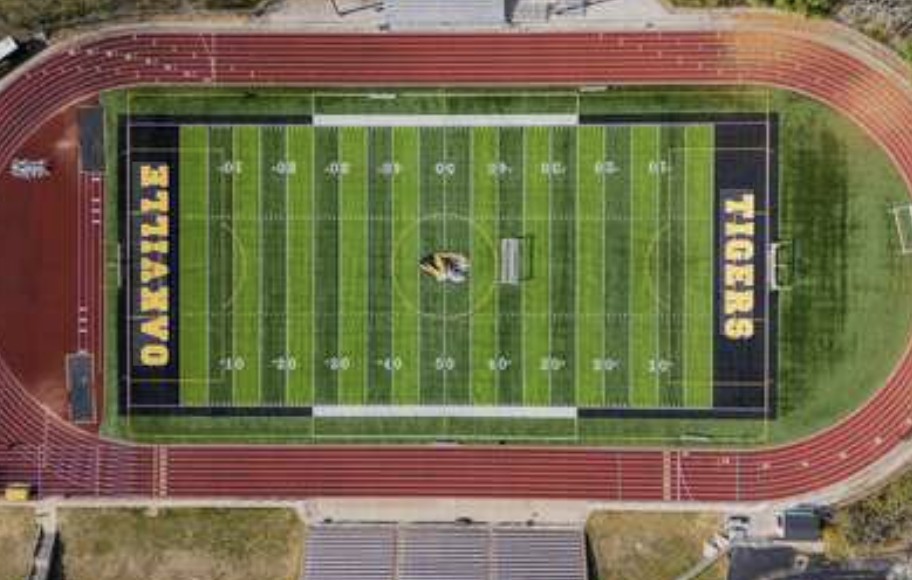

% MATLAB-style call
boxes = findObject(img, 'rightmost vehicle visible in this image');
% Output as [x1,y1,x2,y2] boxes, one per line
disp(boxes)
[733,515,748,547]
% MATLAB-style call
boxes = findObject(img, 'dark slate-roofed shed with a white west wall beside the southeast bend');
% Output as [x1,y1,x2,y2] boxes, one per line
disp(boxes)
[778,506,819,540]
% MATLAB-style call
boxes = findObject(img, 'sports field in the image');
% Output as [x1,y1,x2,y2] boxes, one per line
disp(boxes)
[104,84,781,448]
